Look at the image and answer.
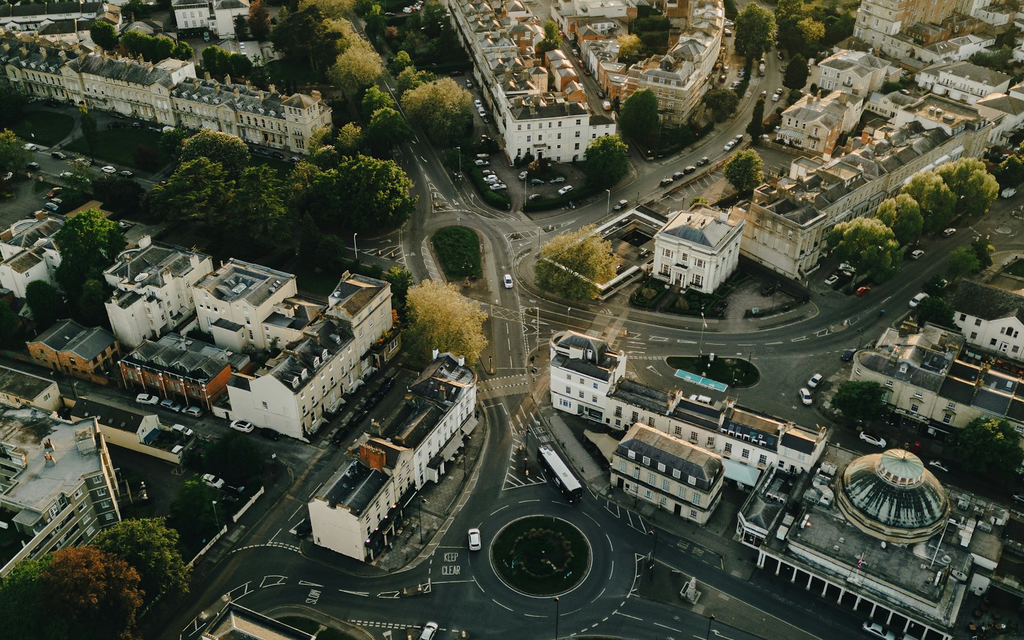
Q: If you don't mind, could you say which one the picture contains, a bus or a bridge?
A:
bus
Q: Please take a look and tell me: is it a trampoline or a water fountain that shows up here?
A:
water fountain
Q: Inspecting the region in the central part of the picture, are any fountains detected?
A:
No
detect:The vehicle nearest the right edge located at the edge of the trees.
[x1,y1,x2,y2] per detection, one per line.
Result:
[1000,186,1016,198]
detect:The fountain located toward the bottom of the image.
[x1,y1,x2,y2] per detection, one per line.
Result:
[676,578,705,611]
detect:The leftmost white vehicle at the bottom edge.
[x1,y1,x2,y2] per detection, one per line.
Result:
[419,619,439,640]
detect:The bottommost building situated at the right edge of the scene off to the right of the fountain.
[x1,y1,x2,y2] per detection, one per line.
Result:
[757,449,1024,640]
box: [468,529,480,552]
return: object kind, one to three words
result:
vehicle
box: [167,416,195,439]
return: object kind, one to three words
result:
vehicle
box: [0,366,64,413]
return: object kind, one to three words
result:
house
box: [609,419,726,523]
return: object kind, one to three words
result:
building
